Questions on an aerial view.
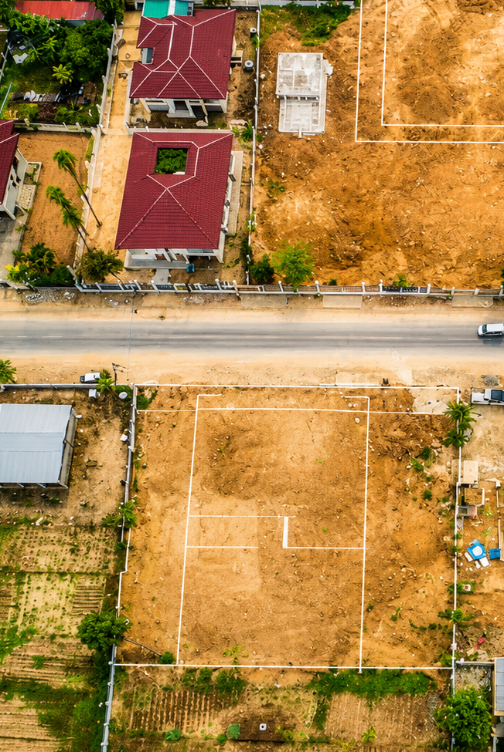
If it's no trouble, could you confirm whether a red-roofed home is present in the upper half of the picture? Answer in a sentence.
Yes, a red-roofed home is visible in the upper half of the picture.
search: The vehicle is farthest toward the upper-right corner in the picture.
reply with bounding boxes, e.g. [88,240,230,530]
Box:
[477,324,504,338]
